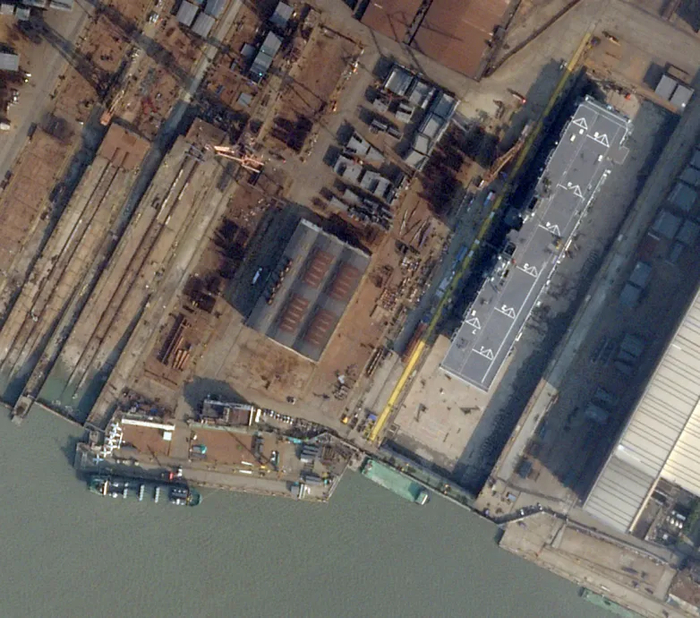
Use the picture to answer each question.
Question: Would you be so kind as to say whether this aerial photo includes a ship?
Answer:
Yes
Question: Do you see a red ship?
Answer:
No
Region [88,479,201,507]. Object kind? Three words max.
ship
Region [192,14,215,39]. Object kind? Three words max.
shed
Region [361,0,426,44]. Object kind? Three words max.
building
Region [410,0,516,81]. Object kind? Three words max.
building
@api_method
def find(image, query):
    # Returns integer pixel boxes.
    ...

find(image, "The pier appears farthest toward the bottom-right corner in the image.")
[500,512,700,618]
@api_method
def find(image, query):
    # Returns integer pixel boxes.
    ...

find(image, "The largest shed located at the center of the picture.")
[245,218,375,364]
